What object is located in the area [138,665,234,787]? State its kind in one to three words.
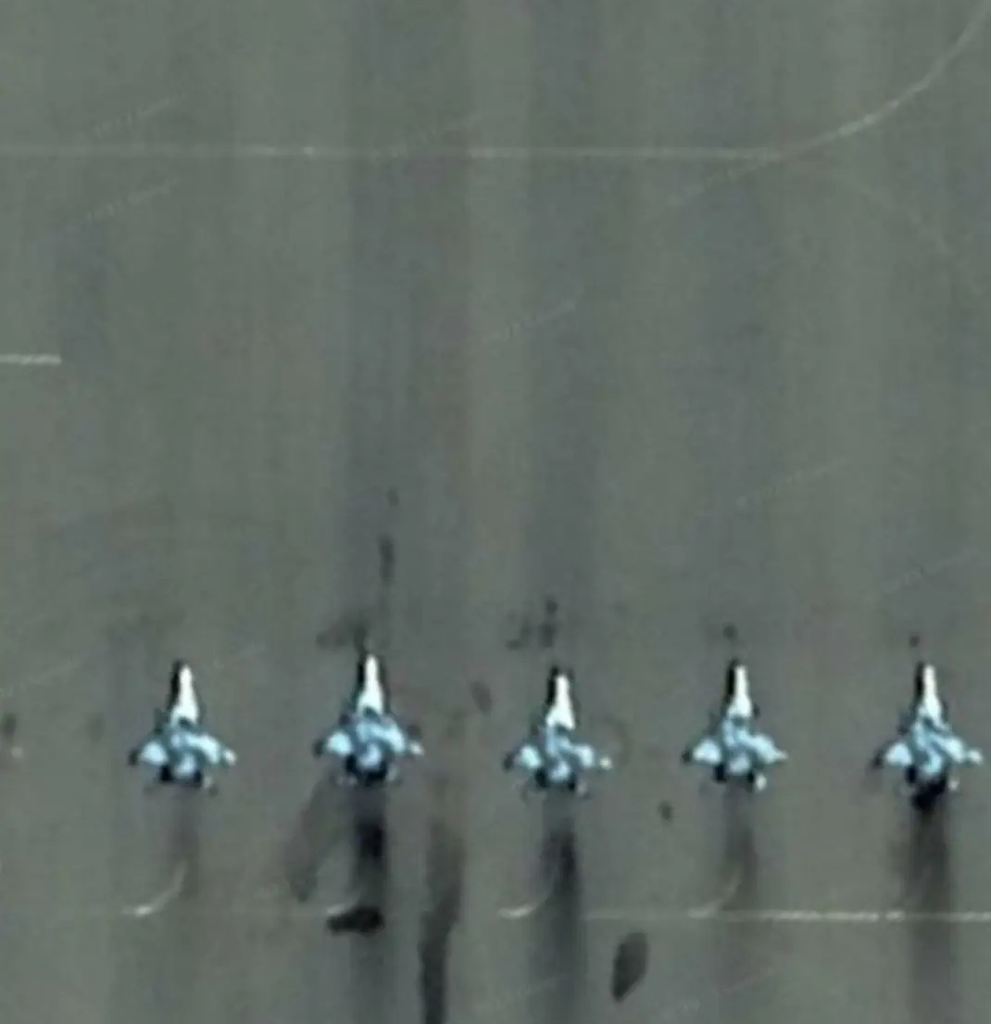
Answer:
airplane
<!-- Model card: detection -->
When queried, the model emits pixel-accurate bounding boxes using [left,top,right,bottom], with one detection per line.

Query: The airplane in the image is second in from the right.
[693,665,789,788]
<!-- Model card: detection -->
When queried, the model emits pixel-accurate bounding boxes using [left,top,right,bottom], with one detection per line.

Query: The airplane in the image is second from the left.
[325,654,420,777]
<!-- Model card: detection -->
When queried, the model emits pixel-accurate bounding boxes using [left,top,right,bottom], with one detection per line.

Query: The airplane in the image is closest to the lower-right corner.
[880,665,975,788]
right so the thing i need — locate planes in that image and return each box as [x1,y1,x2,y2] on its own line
[880,665,975,788]
[693,665,789,788]
[325,654,420,777]
[138,665,234,787]
[514,673,609,796]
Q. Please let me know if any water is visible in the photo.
No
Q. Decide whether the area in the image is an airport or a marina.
airport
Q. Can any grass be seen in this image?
No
